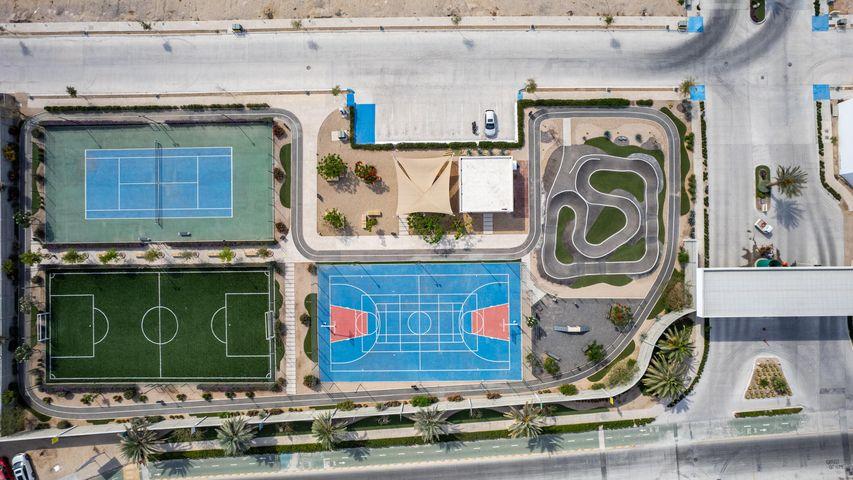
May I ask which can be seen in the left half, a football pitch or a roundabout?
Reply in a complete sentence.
Visible in the left half is a football pitch.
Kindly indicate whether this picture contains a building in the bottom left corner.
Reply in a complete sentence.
No, there's no building to be seen in the bottom left corner.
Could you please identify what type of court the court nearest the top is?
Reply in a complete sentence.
Looking closely, the court nearest the top is a tennis court.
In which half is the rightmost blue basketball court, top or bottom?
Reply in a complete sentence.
The bottom half of the photo is where the rightmost blue basketball court is.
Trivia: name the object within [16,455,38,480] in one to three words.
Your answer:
car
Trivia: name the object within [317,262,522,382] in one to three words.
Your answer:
basketball court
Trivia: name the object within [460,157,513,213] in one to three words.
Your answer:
building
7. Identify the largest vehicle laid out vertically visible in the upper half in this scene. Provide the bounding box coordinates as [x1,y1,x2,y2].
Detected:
[484,109,497,137]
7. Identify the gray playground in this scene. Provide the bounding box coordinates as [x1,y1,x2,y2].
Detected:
[532,294,643,381]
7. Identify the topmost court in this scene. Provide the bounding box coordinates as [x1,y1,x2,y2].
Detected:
[44,122,275,243]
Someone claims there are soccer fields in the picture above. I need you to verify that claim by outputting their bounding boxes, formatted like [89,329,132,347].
[46,263,275,384]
